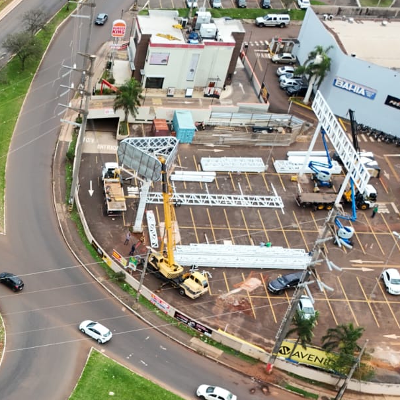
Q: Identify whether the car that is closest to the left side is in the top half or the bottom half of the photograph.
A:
bottom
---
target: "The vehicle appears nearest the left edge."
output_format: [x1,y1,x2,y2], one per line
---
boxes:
[0,271,26,291]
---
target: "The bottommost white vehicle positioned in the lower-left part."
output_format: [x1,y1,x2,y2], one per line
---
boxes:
[79,319,114,344]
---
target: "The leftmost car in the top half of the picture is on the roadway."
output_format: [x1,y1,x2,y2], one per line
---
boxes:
[95,11,109,25]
